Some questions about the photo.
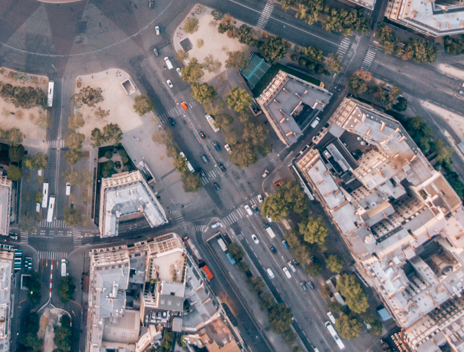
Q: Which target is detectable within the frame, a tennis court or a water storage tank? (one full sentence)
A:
I can see a tennis court in this picture.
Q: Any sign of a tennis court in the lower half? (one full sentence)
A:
No, I see no tennis court in the lower half.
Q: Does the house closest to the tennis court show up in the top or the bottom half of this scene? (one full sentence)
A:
Seen from above, the house closest to the tennis court lies in the top half of the view.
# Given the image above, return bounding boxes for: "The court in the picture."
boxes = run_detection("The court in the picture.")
[240,54,271,89]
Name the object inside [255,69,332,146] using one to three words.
house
